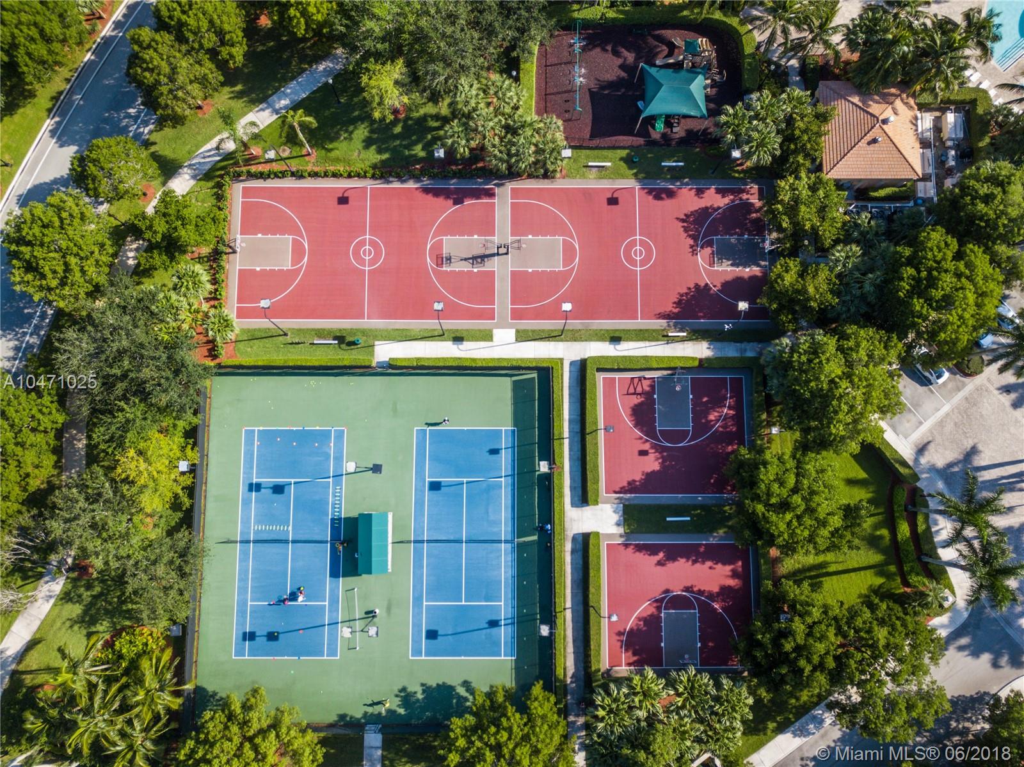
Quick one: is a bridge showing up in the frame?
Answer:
No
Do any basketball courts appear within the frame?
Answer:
Yes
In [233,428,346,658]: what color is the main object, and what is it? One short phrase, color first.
blue tennis court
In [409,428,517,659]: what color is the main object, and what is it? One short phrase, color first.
blue tennis court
